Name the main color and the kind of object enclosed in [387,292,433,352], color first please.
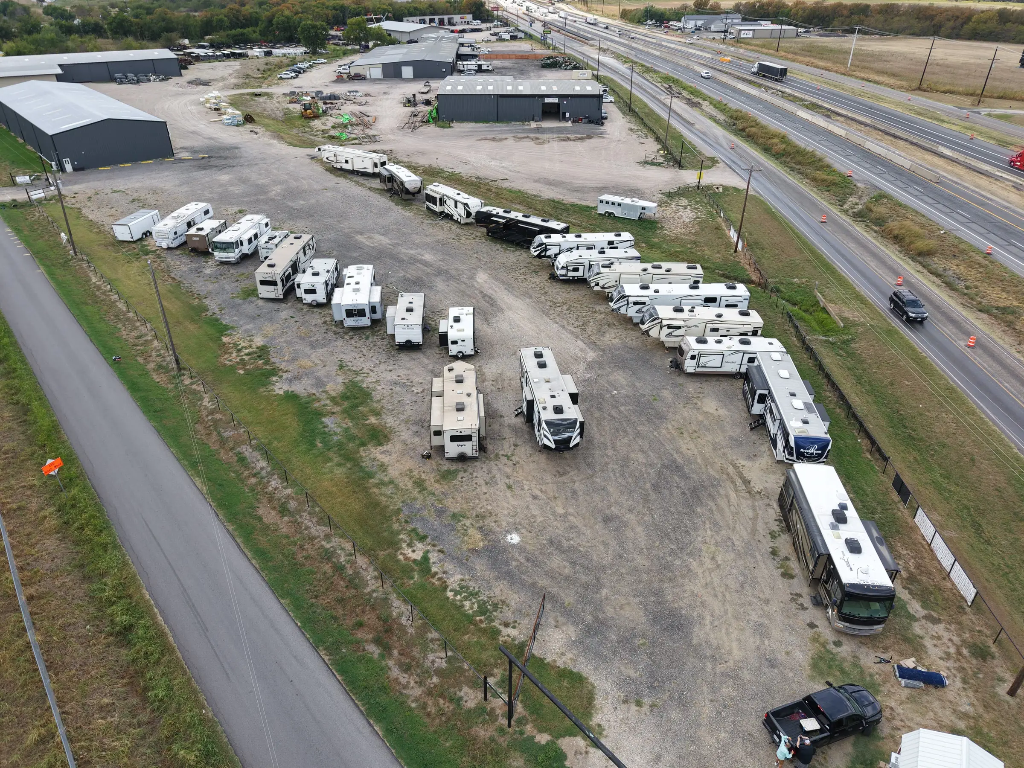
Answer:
white vehicle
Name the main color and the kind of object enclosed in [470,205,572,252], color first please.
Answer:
black camper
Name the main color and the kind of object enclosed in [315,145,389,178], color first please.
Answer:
white camper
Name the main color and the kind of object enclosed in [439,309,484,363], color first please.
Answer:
white vehicle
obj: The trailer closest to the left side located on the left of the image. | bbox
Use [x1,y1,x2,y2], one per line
[111,210,160,242]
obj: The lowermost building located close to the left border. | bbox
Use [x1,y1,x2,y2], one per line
[0,80,174,172]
